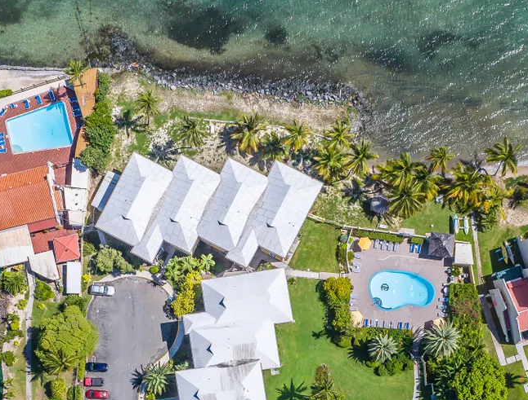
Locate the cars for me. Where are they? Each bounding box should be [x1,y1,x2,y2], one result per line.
[82,376,108,387]
[85,362,108,372]
[89,284,116,294]
[86,390,108,399]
